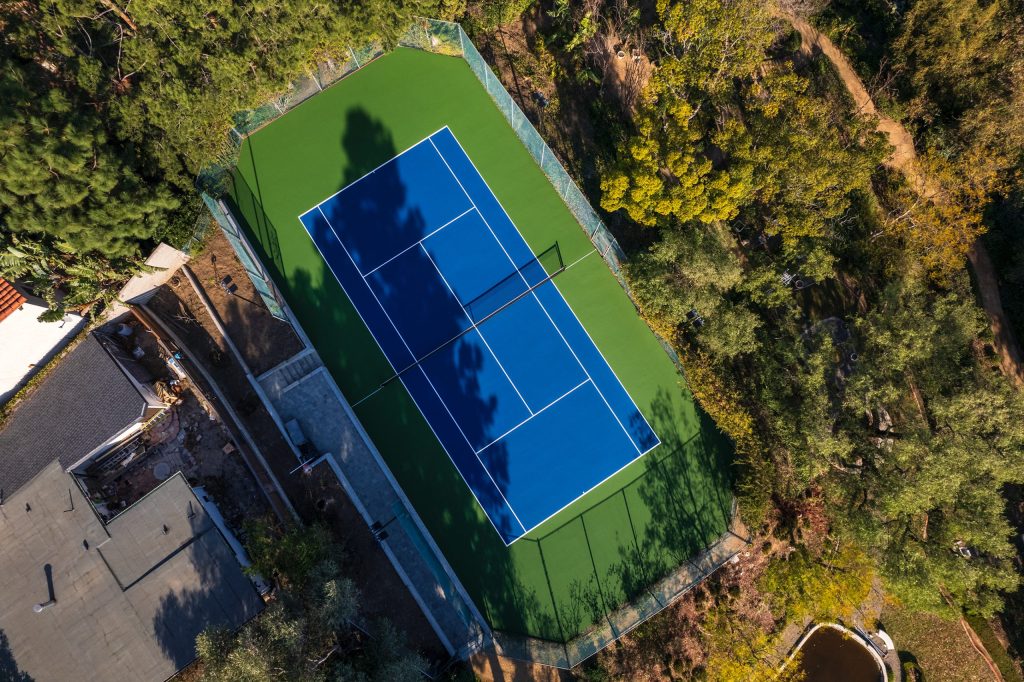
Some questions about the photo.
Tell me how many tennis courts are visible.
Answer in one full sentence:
Only 1 tennis court is visible.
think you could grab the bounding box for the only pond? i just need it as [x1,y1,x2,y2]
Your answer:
[776,622,888,682]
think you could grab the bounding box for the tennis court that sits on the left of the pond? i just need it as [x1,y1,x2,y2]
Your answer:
[220,45,739,640]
